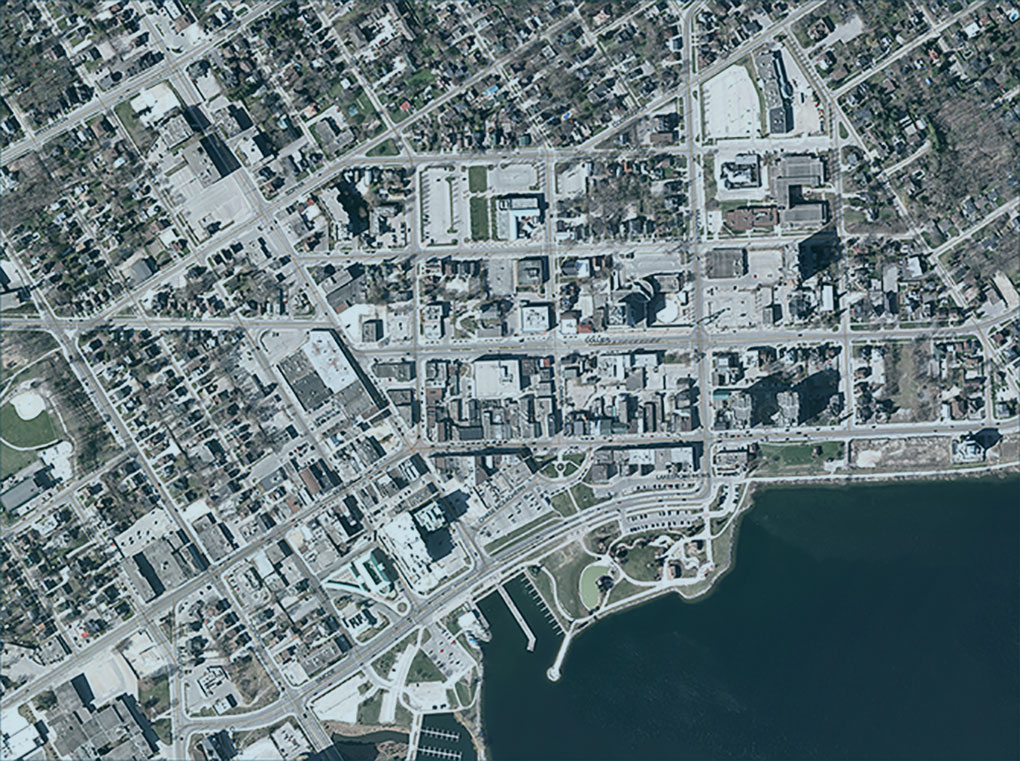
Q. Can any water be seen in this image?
Yes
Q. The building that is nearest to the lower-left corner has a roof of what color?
white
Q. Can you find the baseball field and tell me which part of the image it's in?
left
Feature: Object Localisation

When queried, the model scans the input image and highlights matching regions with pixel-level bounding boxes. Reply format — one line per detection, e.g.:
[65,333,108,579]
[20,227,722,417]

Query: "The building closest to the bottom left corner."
[0,708,41,760]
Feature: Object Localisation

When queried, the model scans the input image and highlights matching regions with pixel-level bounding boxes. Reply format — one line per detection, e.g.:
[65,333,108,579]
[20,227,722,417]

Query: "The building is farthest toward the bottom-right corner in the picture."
[955,440,983,460]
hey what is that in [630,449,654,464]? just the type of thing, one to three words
building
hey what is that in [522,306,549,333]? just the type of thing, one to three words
building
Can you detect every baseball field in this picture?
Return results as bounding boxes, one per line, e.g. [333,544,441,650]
[0,390,55,448]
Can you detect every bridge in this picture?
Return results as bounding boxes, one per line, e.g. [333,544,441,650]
[283,692,338,761]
